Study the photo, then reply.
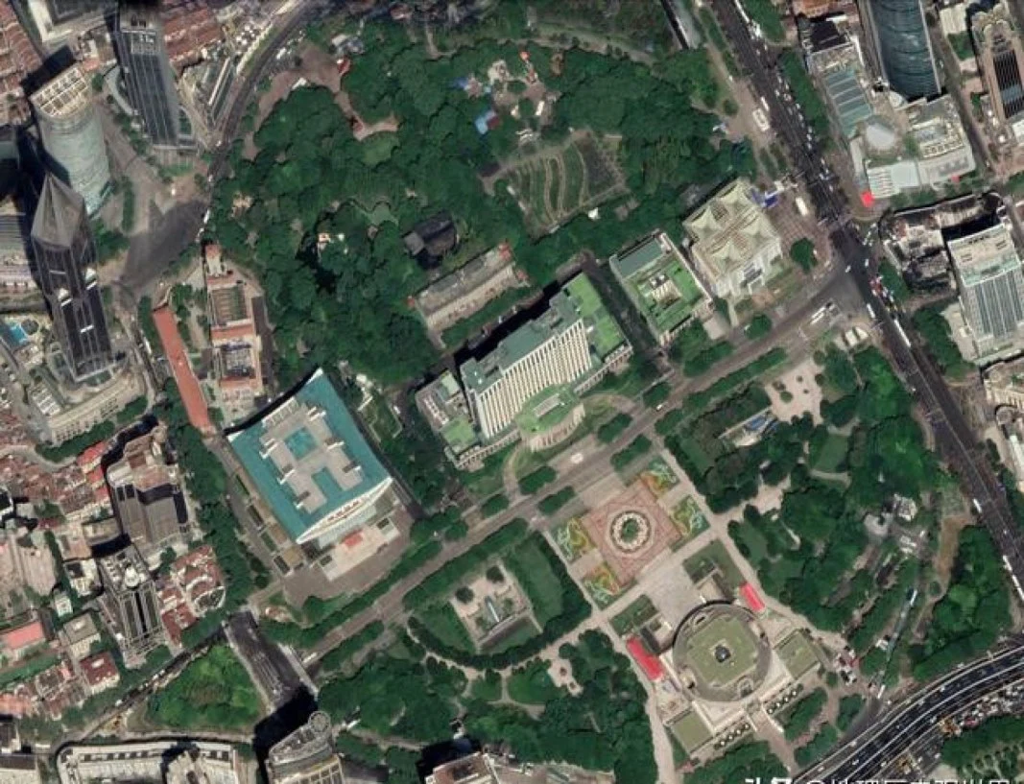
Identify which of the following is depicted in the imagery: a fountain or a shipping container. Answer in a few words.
fountain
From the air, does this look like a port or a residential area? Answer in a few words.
residential area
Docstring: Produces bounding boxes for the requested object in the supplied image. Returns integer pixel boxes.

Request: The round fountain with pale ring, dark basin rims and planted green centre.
[584,482,679,582]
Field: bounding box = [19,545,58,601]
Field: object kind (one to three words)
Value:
shed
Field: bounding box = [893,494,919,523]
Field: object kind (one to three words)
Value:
building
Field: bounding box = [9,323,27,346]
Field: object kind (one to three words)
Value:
swimming pool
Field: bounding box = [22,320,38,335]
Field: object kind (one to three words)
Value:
gazebo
